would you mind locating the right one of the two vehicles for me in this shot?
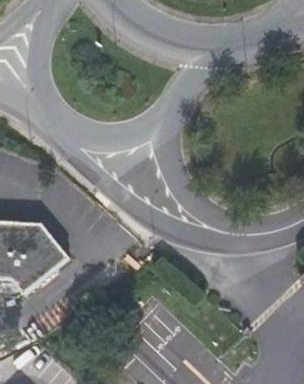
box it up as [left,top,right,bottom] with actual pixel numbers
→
[33,351,51,370]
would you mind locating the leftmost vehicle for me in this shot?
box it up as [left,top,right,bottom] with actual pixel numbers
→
[12,344,40,369]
